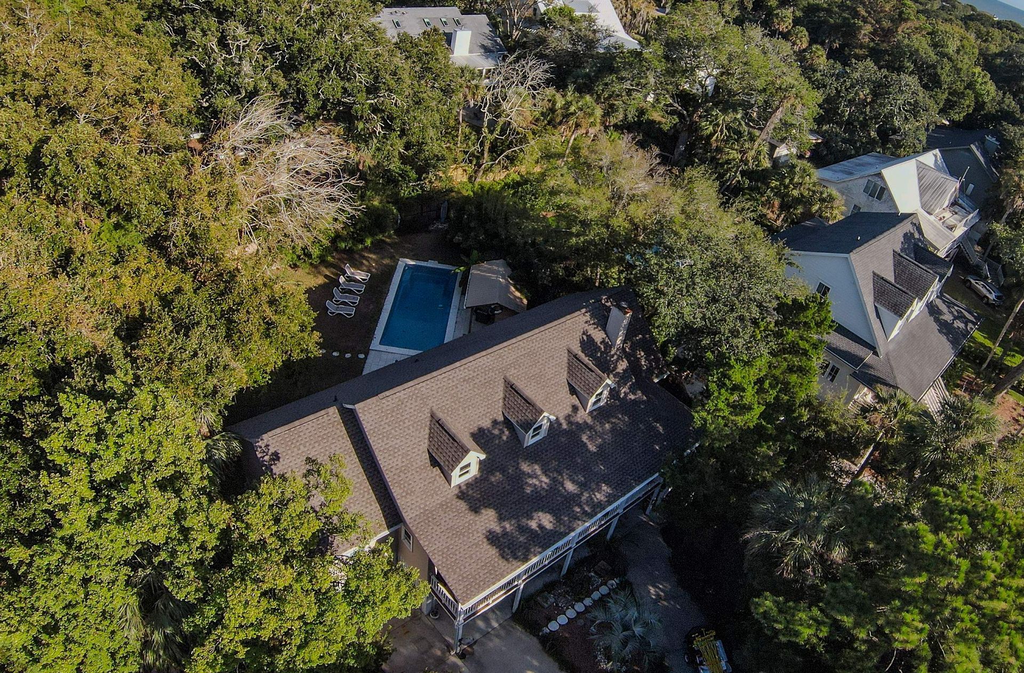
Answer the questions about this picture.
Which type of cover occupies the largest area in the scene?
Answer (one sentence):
What you mostly see from above here is trees.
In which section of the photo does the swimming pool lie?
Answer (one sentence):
The swimming pool is in the center part of the image.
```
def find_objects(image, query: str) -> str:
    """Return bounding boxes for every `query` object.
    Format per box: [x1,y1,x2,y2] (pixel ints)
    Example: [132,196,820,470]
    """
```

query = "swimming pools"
[370,258,464,354]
